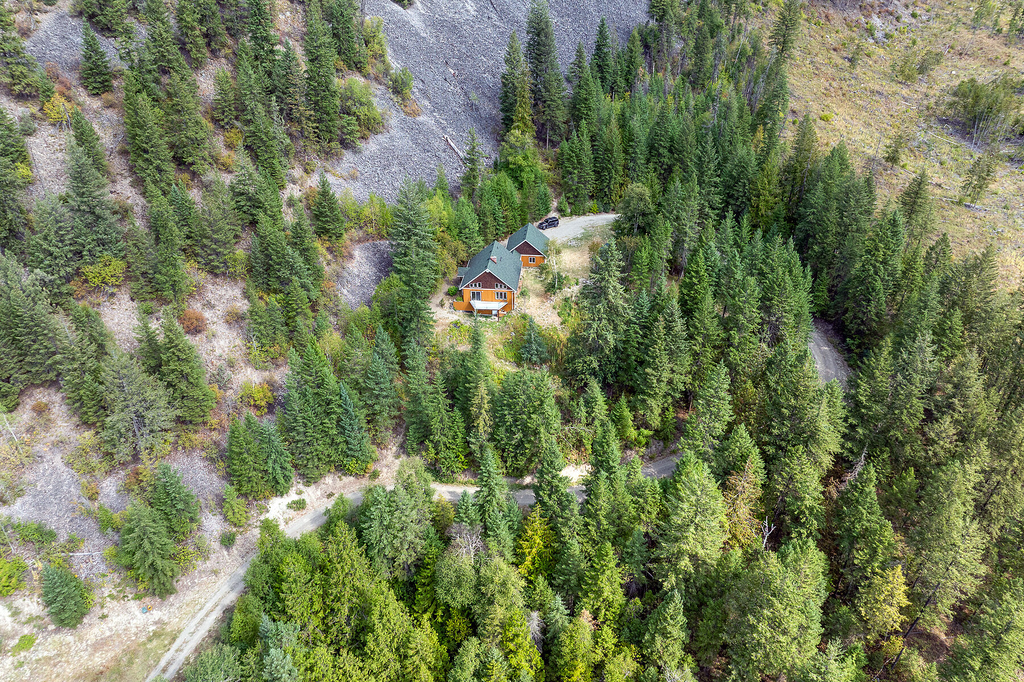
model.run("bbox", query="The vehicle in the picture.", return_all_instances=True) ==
[539,215,563,231]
